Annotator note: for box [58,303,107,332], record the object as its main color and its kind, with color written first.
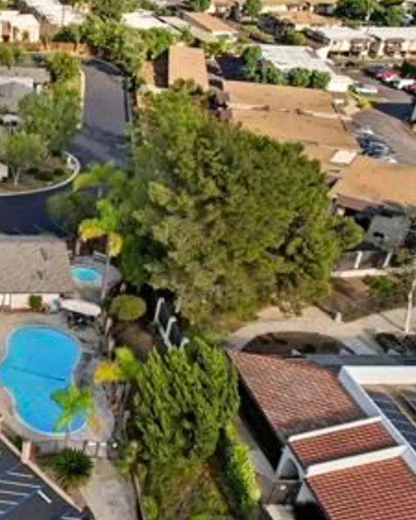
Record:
white umbrella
